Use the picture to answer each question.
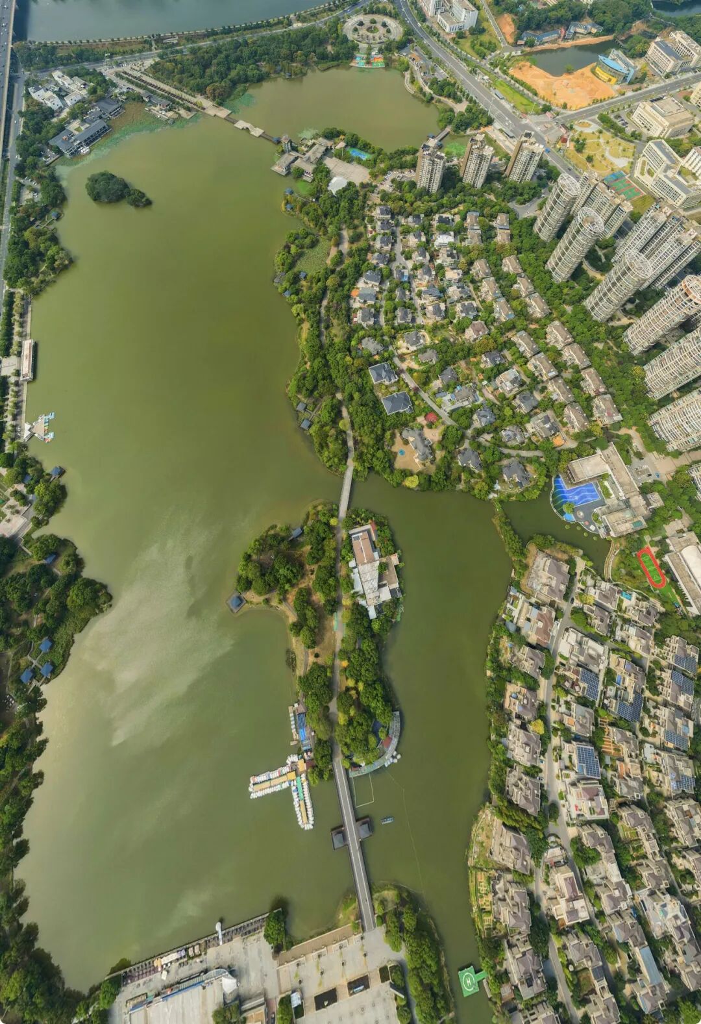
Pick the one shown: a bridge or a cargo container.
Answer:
bridge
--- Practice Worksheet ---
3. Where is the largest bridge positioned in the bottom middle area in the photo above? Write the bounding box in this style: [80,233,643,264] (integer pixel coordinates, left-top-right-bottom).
[330,756,377,936]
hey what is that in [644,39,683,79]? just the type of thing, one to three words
building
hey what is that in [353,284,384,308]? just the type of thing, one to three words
house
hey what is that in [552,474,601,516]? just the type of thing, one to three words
swimming pool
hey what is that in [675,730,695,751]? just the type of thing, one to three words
solar panel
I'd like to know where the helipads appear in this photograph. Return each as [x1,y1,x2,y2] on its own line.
[458,964,487,997]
